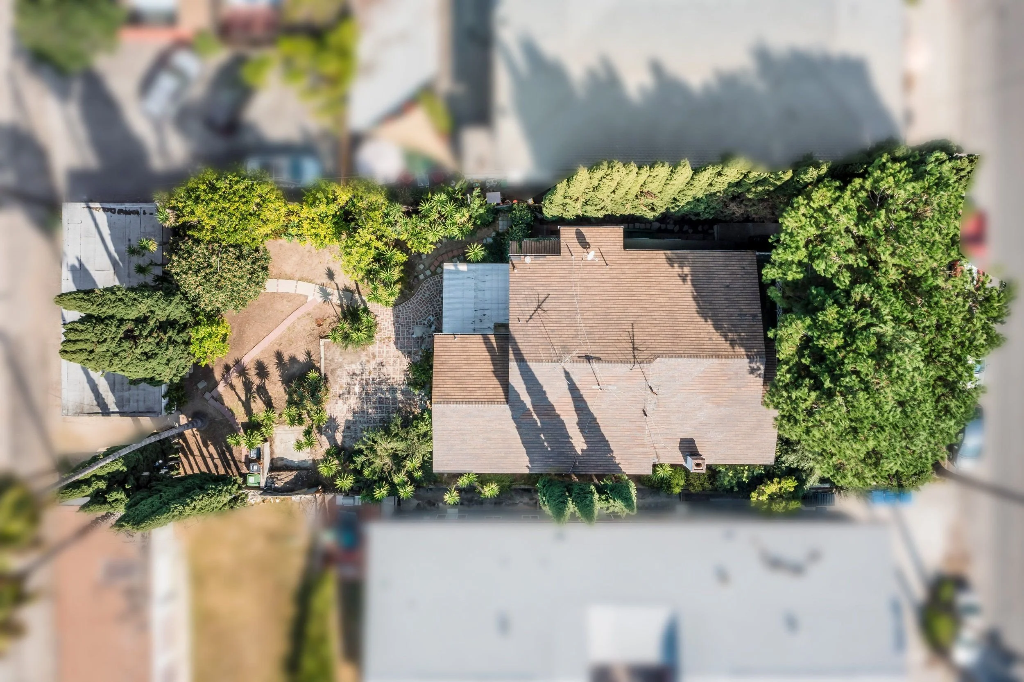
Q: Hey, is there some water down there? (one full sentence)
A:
No, water can't be seen anywhere here.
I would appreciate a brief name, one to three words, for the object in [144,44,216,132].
car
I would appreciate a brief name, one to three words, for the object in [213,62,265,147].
car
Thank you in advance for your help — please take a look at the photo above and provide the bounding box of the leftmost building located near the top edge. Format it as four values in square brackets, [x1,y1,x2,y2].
[179,0,233,53]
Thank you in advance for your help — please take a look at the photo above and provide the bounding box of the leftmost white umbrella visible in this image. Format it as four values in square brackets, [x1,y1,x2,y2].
[353,131,400,178]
